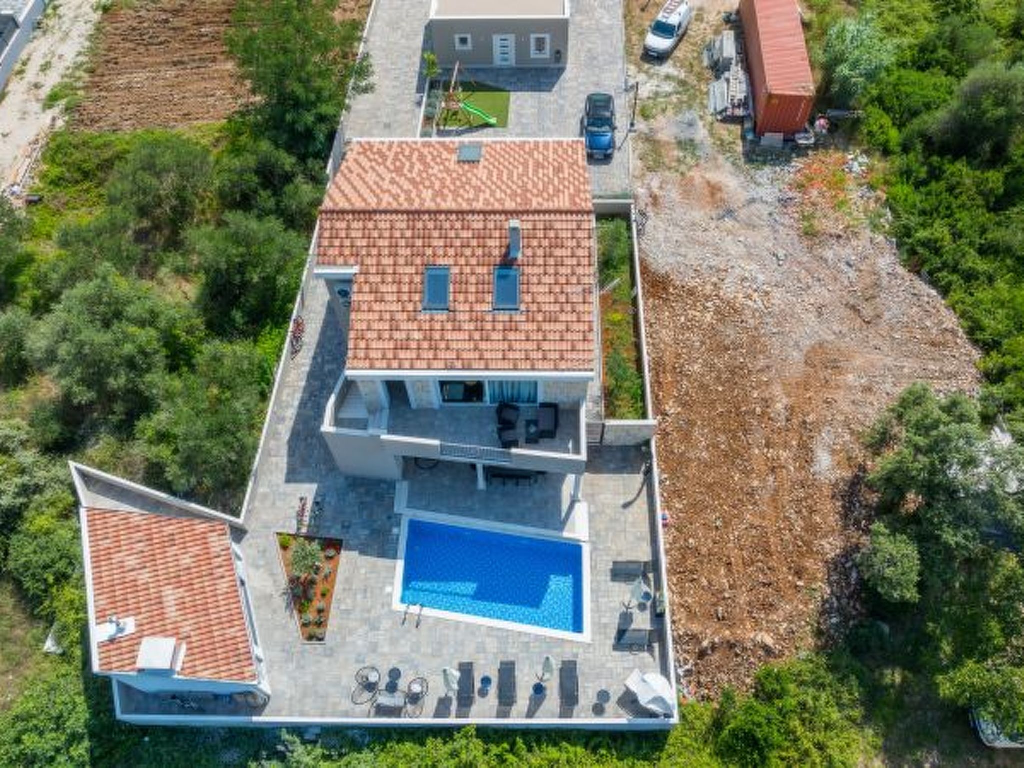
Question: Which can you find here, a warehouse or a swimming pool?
swimming pool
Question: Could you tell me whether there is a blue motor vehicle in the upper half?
Yes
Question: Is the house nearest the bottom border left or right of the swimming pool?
on the left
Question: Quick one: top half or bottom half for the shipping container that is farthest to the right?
top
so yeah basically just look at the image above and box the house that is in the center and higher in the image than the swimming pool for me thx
[312,135,599,543]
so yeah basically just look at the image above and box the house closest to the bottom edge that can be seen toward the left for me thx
[79,503,276,691]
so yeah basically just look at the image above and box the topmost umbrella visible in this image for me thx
[622,575,642,612]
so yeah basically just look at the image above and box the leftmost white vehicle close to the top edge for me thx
[640,0,694,64]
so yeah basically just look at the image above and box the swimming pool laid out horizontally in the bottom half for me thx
[386,514,594,644]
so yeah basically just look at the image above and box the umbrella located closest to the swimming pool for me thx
[535,649,550,687]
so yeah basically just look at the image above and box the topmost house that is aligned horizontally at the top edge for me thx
[432,0,573,66]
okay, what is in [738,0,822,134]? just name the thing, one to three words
shipping container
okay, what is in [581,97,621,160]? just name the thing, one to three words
car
